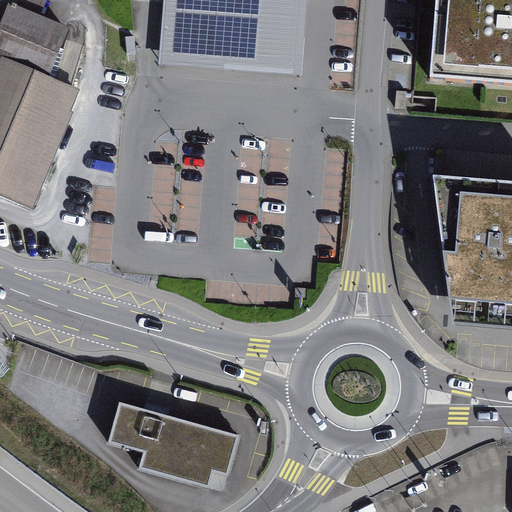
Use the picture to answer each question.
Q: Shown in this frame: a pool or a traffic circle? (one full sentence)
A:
The one in the frame is a traffic circle.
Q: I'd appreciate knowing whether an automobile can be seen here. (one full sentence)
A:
Yes, I can see an automobile in this picture.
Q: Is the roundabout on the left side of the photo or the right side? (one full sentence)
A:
The roundabout sits on the right side.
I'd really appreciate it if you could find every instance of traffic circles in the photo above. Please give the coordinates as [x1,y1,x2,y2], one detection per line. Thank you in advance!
[286,316,427,456]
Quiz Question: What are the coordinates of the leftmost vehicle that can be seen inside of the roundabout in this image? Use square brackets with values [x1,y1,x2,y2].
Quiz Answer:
[308,408,327,431]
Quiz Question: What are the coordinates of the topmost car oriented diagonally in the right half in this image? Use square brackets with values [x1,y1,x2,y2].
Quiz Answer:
[390,220,412,240]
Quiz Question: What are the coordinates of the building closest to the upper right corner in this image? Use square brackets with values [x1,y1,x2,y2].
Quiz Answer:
[428,0,512,86]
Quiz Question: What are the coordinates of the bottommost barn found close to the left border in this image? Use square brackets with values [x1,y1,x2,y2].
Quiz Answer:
[0,56,80,210]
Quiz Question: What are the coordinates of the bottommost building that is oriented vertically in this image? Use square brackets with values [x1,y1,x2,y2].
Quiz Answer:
[432,174,512,330]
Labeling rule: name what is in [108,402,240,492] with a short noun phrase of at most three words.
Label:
building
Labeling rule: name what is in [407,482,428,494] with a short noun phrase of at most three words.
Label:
vehicle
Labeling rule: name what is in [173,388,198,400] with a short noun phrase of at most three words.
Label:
vehicle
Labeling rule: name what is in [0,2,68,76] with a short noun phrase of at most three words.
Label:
barn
